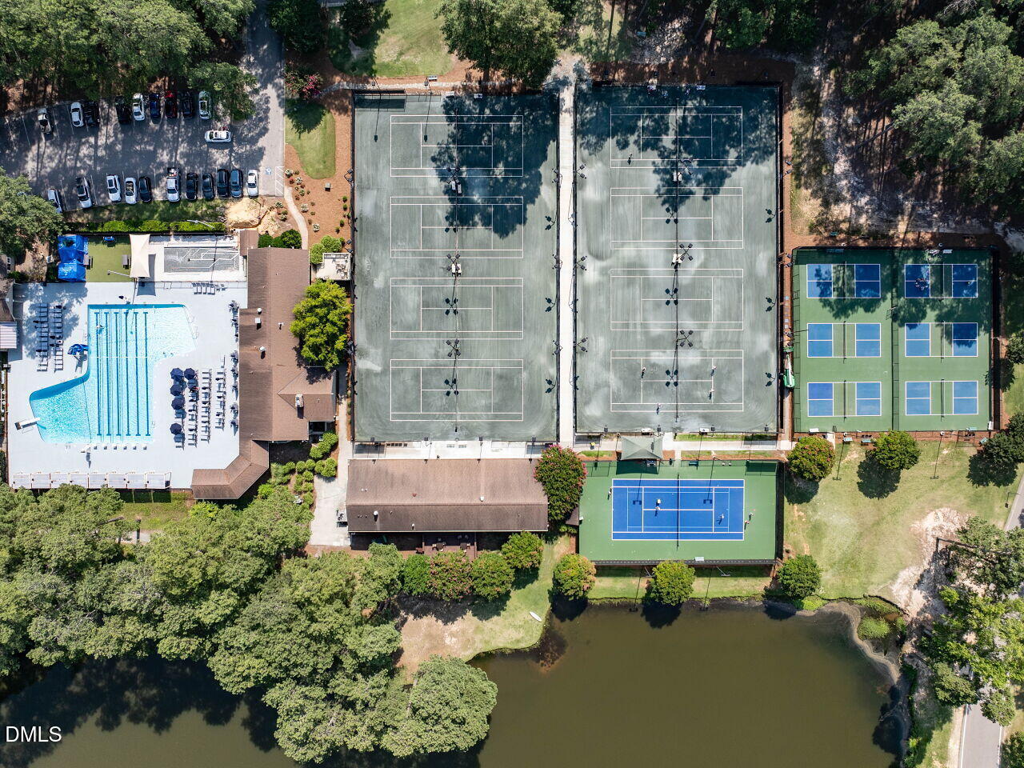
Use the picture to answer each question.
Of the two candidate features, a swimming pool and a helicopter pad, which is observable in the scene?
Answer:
swimming pool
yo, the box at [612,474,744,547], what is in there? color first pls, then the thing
blue tennis court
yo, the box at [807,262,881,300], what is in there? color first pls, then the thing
blue sports court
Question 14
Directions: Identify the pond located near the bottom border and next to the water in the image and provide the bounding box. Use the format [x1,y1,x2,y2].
[0,596,912,768]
